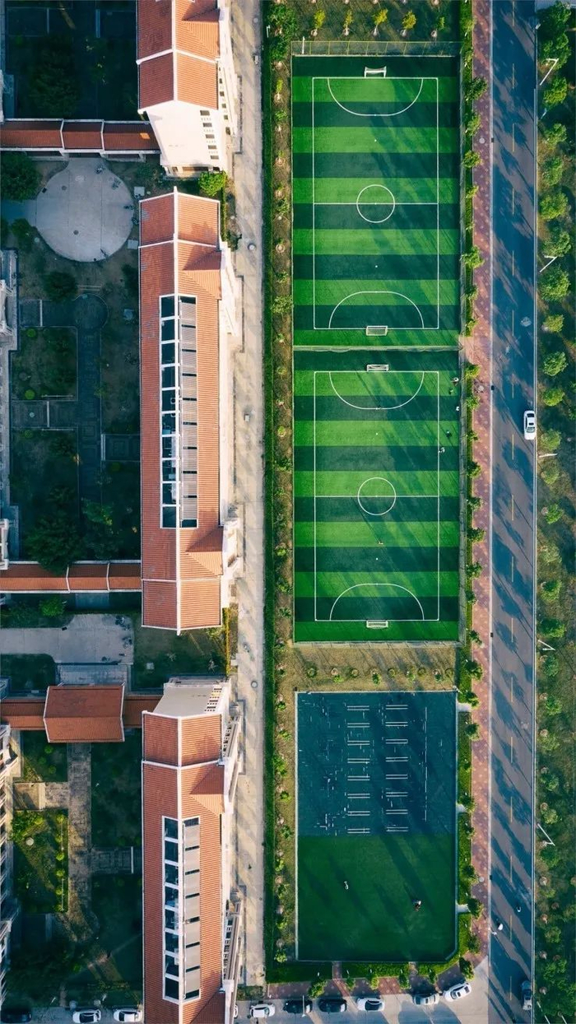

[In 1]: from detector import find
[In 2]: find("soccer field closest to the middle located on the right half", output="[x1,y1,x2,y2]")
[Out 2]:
[294,349,459,642]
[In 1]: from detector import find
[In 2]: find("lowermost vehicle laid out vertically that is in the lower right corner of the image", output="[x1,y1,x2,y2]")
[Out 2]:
[521,979,535,1009]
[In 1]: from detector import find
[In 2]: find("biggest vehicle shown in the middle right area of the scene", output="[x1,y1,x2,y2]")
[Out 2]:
[522,411,534,439]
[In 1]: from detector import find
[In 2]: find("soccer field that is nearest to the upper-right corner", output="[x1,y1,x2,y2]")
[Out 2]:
[294,56,459,348]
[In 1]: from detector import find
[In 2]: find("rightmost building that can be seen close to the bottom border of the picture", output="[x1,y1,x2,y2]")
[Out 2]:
[140,670,250,1024]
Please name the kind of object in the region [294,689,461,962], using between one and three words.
sports field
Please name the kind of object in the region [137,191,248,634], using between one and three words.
building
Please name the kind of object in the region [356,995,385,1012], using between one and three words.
car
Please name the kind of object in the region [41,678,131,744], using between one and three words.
building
